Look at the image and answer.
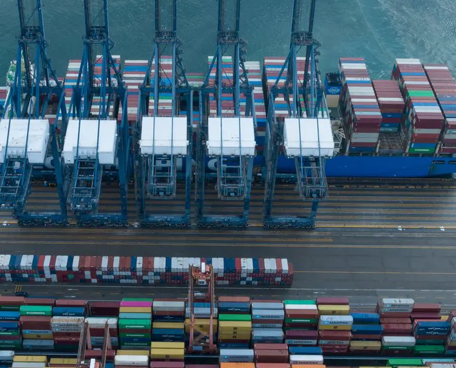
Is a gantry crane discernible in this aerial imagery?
Yes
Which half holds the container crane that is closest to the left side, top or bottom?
top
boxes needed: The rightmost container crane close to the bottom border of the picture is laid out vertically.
[192,257,227,359]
